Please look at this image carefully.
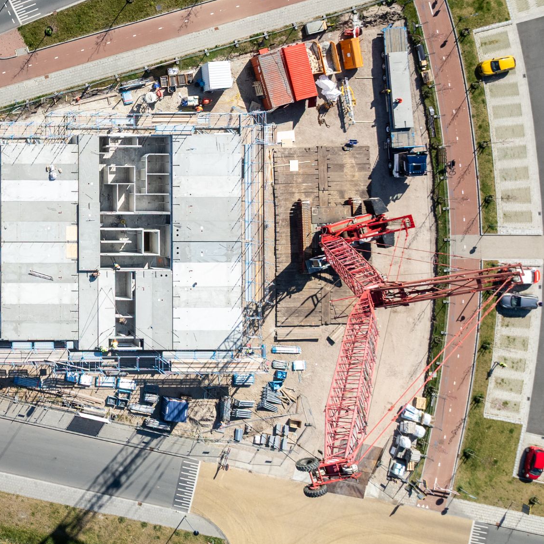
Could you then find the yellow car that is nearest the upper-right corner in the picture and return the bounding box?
[475,57,517,78]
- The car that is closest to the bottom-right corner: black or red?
red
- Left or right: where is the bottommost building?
left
